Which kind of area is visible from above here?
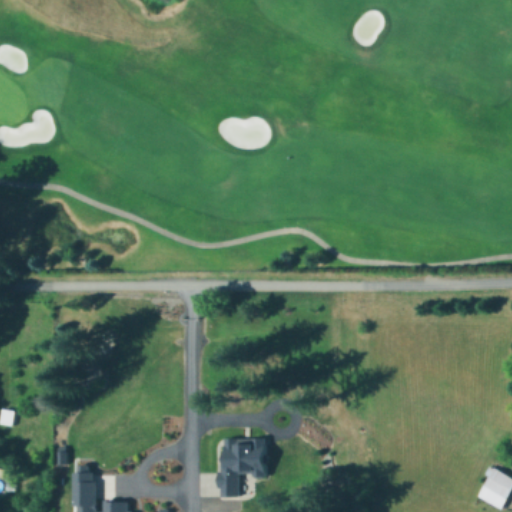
golf course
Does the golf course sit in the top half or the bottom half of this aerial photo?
top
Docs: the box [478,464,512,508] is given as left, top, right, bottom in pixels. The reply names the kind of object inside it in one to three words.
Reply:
barn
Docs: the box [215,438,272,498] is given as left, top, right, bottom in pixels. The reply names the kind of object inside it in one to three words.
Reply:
house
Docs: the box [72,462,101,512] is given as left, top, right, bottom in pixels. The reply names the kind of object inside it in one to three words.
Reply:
house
